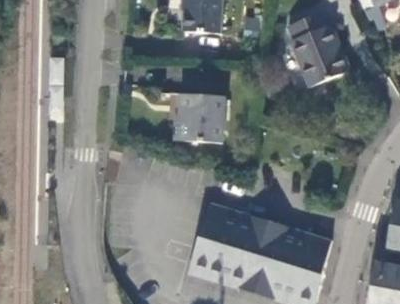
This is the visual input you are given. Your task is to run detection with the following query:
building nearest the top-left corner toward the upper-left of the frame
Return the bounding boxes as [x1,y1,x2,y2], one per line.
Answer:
[49,58,66,86]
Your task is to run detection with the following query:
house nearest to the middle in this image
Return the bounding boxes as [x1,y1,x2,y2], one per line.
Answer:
[173,94,228,144]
